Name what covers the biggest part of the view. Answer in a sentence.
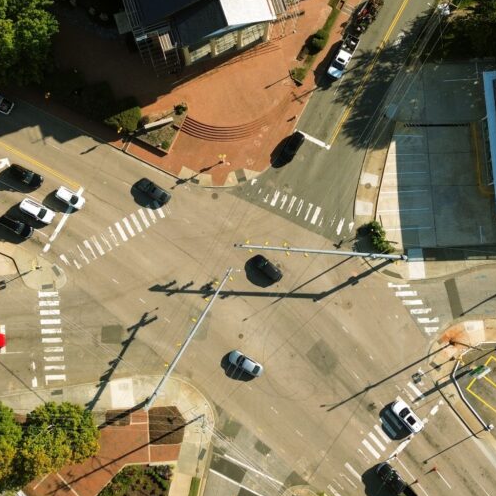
The bulk of the photo consists of paved ground.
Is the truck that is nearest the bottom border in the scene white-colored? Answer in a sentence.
No, from above the truck that is nearest the bottom border looks black.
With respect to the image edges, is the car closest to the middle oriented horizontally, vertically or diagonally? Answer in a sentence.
The car closest to the middle has been laid out diagonally relative to the frame.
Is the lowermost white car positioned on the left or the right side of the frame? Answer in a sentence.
The lowermost white car is on the right side of the image.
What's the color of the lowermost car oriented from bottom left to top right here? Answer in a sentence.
From above, the lowermost car oriented from bottom left to top right appears black.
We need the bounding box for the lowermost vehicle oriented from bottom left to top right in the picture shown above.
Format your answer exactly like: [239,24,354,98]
[273,130,306,167]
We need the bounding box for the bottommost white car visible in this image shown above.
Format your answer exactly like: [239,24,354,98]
[387,395,428,437]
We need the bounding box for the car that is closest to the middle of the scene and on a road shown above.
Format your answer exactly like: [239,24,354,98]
[247,251,285,283]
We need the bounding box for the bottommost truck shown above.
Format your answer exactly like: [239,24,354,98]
[373,458,420,496]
